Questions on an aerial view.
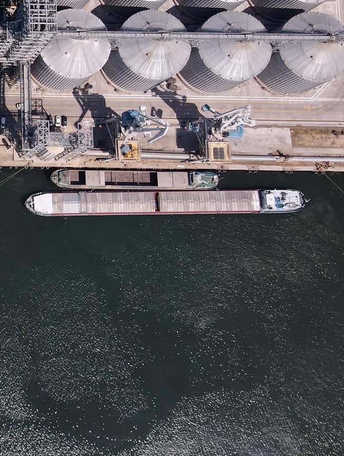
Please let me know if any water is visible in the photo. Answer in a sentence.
Yes, there's water in this view.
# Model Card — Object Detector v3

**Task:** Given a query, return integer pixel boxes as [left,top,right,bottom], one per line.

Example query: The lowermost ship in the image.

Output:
[24,188,309,217]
